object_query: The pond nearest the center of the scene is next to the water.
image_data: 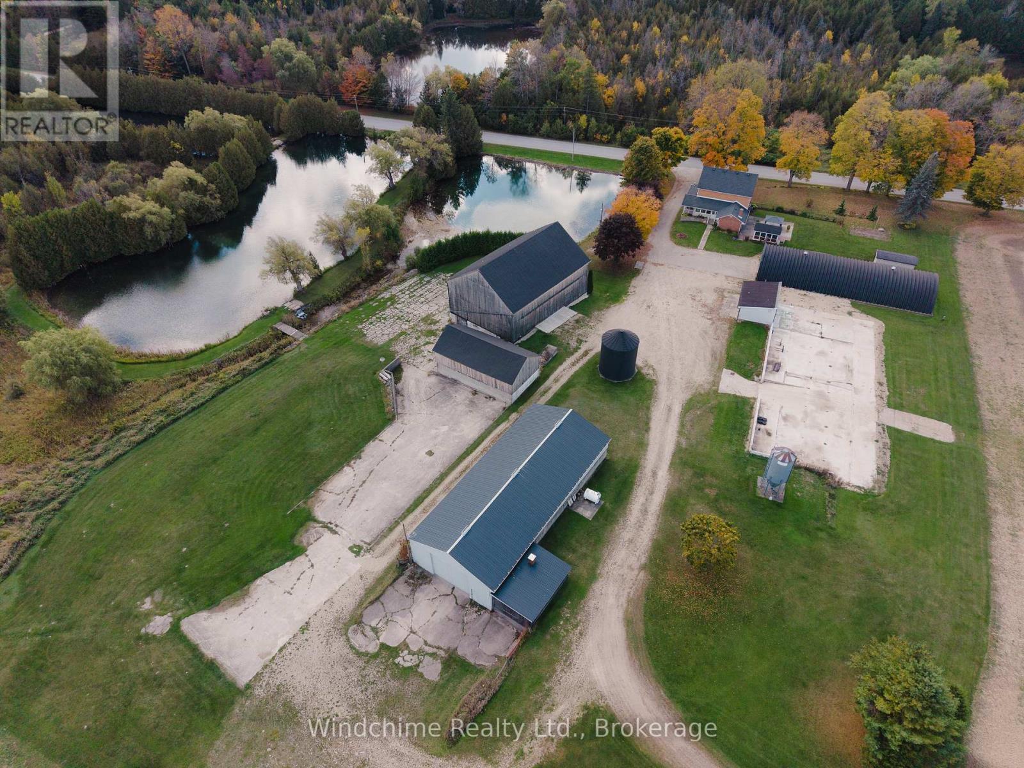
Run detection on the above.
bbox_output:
[427,154,626,256]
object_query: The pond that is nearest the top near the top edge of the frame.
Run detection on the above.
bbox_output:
[384,25,528,111]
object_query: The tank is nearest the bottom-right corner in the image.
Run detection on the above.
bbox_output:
[765,453,794,483]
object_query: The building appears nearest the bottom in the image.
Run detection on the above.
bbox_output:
[404,403,613,633]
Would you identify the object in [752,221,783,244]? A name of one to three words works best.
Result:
building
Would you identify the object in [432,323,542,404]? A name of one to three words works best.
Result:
building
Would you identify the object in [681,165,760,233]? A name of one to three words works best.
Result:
house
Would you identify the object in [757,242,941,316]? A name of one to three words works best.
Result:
shed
